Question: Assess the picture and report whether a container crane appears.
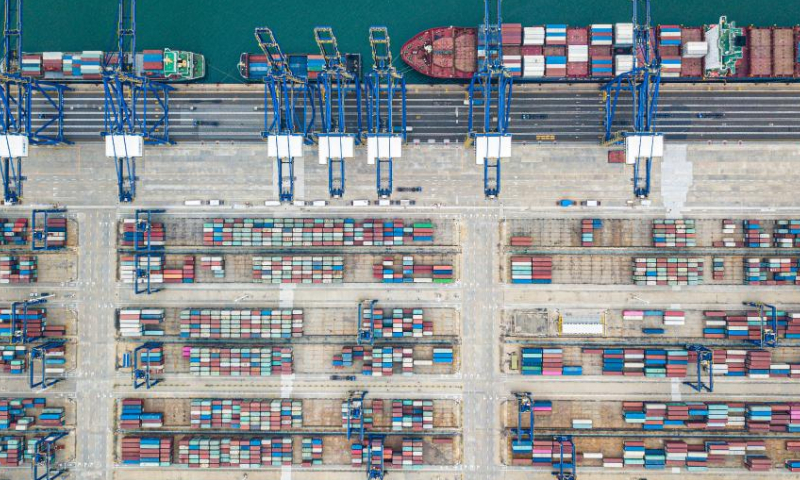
Yes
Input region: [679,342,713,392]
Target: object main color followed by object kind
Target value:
blue crane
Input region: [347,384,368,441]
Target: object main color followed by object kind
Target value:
blue crane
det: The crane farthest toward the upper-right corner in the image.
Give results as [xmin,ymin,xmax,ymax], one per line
[591,0,668,202]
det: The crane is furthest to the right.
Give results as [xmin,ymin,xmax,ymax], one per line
[739,302,777,348]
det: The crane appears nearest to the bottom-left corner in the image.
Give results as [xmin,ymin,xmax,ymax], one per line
[34,430,70,480]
